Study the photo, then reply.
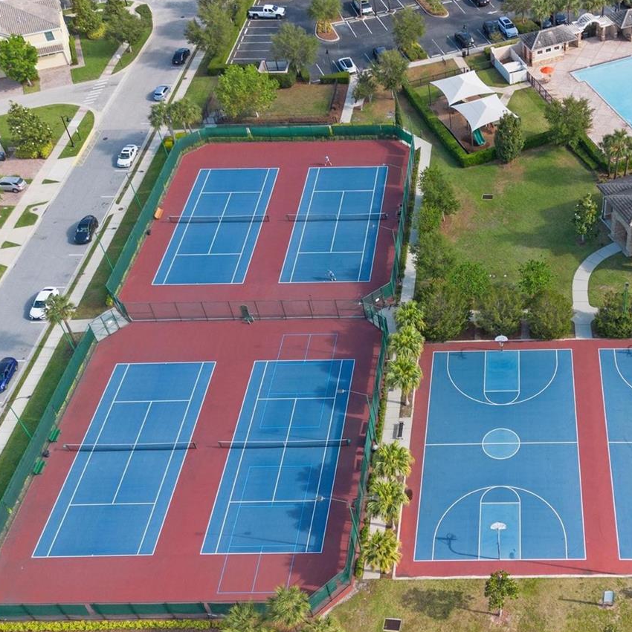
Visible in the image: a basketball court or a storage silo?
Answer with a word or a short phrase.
basketball court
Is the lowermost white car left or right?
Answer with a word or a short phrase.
left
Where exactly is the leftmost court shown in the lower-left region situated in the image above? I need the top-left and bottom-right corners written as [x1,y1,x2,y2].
[0,321,247,617]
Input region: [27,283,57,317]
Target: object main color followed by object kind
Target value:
white car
